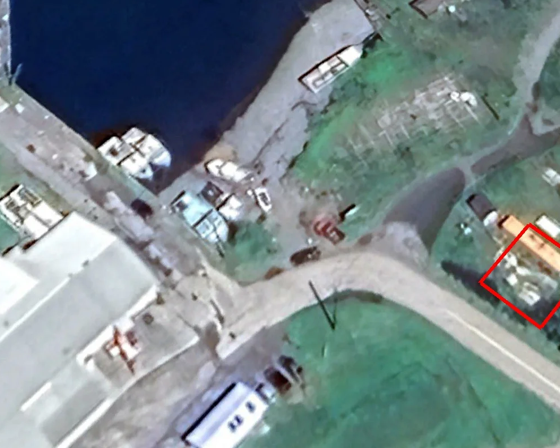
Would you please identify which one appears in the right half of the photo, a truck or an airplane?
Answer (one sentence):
The feature located in the right half of the photo is a truck.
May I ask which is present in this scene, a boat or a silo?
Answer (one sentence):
The one in the frame is a boat.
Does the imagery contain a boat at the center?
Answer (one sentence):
Yes, I can see a boat at the center.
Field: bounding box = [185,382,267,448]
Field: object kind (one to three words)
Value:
house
